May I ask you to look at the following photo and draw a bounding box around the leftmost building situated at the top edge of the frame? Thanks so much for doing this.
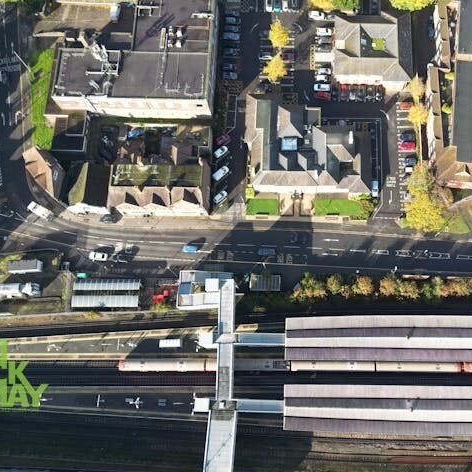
[50,0,221,118]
